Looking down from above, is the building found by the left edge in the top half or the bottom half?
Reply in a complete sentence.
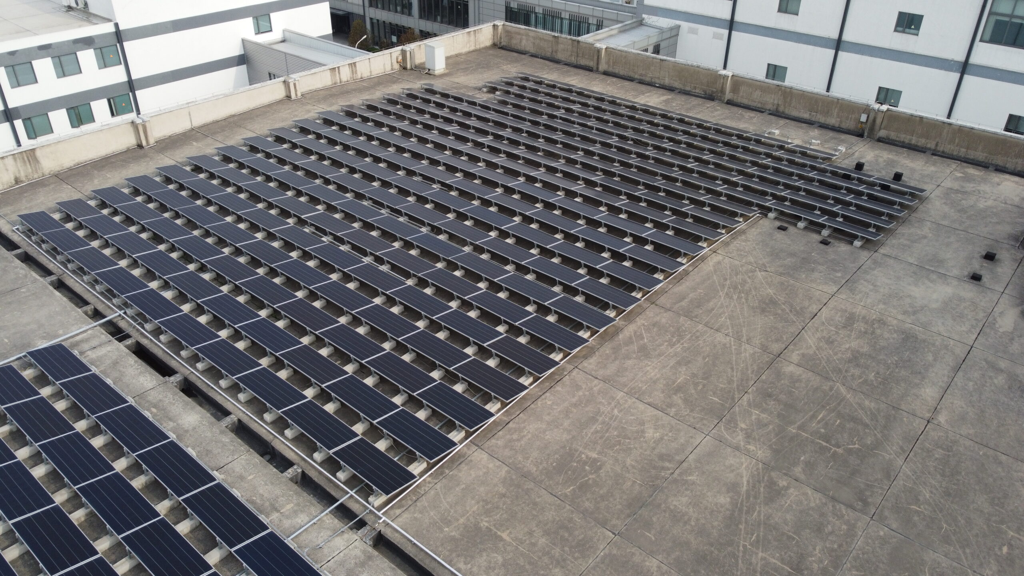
The top half of the photo is where the building found by the left edge is.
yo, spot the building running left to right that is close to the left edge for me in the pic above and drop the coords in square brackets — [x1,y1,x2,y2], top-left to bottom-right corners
[0,0,333,150]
